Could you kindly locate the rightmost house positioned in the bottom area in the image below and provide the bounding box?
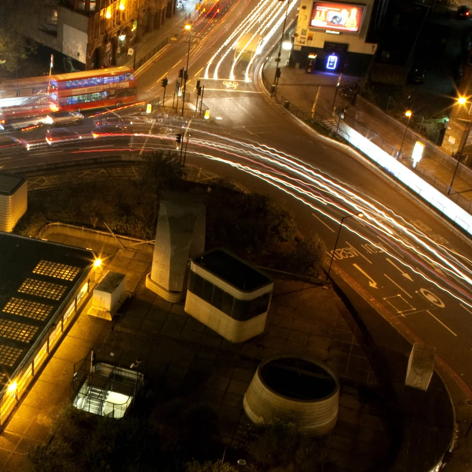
[185,249,273,339]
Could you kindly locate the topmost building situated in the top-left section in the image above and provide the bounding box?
[30,0,196,69]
